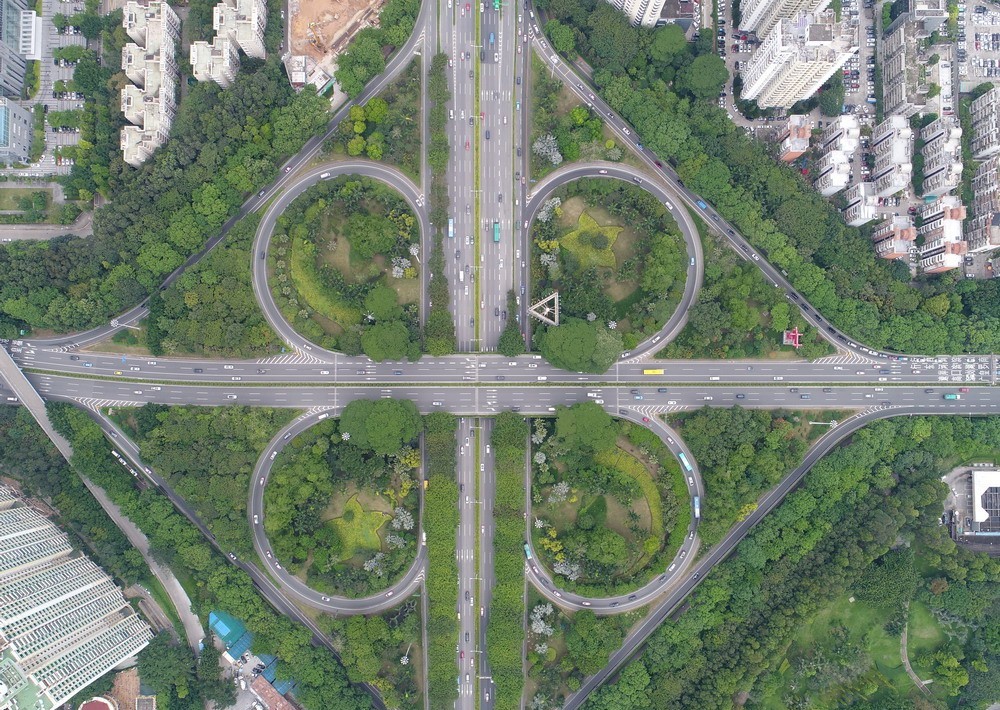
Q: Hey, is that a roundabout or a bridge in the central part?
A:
bridge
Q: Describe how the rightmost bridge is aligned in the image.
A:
from left to right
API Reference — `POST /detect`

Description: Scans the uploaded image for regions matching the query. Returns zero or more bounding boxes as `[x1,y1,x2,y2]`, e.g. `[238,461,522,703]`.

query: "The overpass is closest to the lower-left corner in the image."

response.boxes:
[0,344,208,672]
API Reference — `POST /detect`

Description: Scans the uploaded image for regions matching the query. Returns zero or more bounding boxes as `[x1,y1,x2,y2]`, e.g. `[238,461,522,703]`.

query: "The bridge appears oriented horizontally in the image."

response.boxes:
[408,355,541,416]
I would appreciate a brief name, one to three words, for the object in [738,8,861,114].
building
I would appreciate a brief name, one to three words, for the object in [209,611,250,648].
shed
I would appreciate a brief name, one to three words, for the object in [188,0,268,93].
building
